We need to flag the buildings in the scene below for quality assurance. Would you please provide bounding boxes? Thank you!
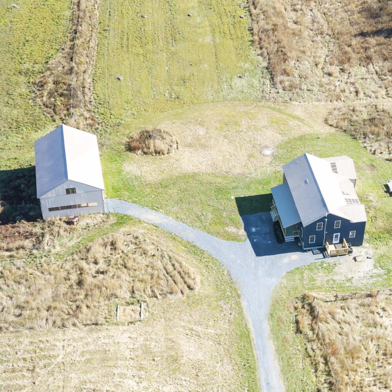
[34,123,105,218]
[269,151,368,249]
